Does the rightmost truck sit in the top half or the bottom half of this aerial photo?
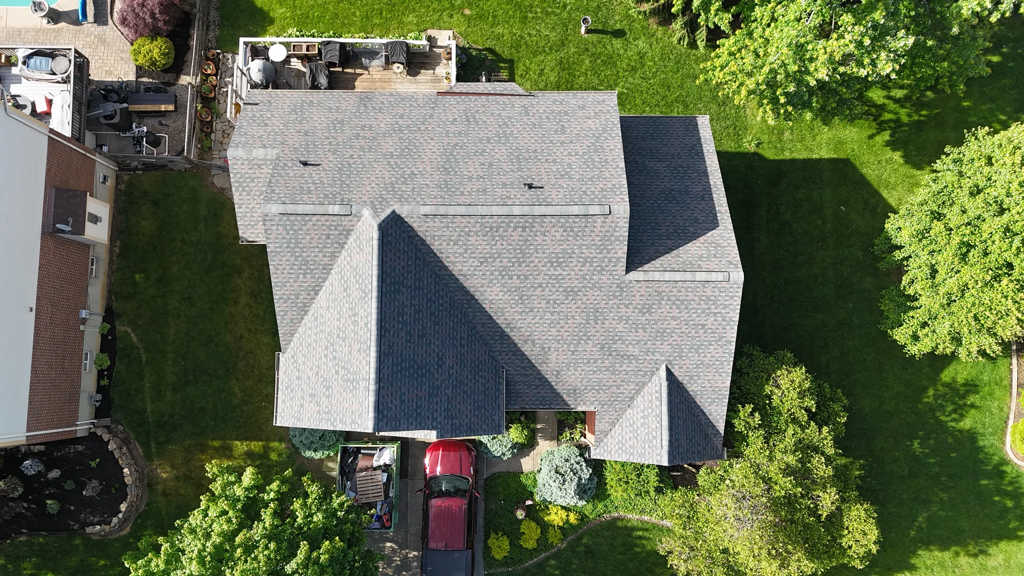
bottom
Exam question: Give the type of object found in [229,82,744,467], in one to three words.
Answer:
house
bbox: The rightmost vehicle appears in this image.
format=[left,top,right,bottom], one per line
[413,438,485,576]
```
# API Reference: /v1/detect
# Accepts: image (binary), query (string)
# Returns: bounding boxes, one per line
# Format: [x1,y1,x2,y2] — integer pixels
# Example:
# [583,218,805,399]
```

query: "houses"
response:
[0,96,123,448]
[229,82,744,467]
